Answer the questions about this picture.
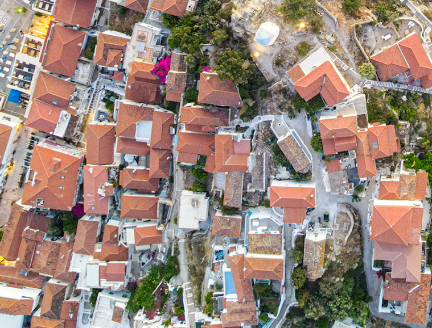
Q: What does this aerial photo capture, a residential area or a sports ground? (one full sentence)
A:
It's a residential area.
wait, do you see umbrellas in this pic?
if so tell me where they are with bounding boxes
[125,153,134,163]
[7,88,22,103]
